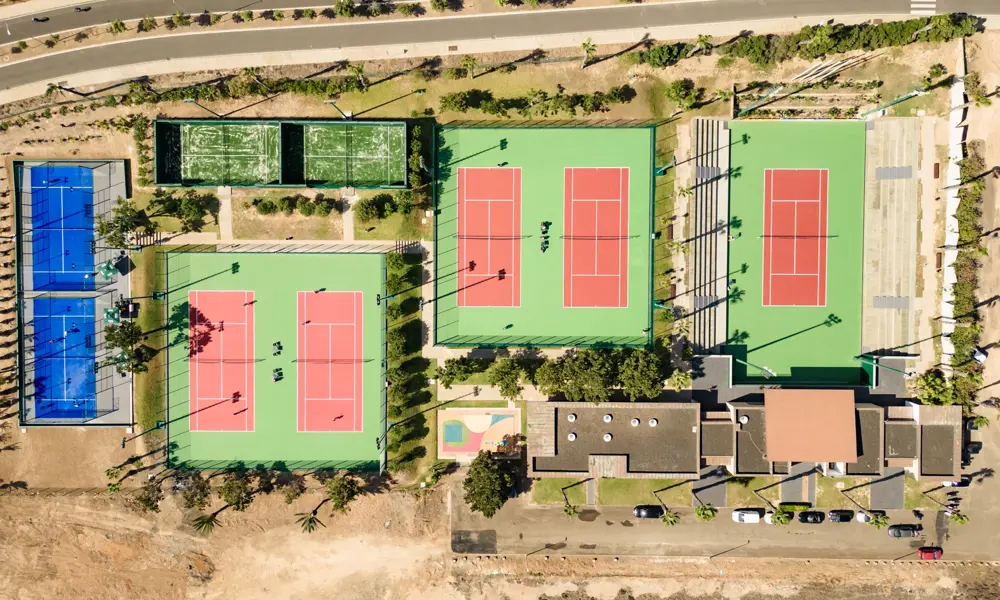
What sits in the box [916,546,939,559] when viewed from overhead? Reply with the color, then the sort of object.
red vehicle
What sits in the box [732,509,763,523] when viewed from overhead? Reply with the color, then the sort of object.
white vehicle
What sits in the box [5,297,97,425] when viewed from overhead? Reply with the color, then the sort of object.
blue sports court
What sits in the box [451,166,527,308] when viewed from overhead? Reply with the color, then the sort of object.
red tennis court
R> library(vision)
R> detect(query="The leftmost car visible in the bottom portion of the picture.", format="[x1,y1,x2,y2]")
[634,504,661,518]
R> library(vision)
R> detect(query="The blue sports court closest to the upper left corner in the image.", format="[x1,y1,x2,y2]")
[2,162,95,292]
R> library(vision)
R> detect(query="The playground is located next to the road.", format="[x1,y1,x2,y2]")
[438,408,521,458]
